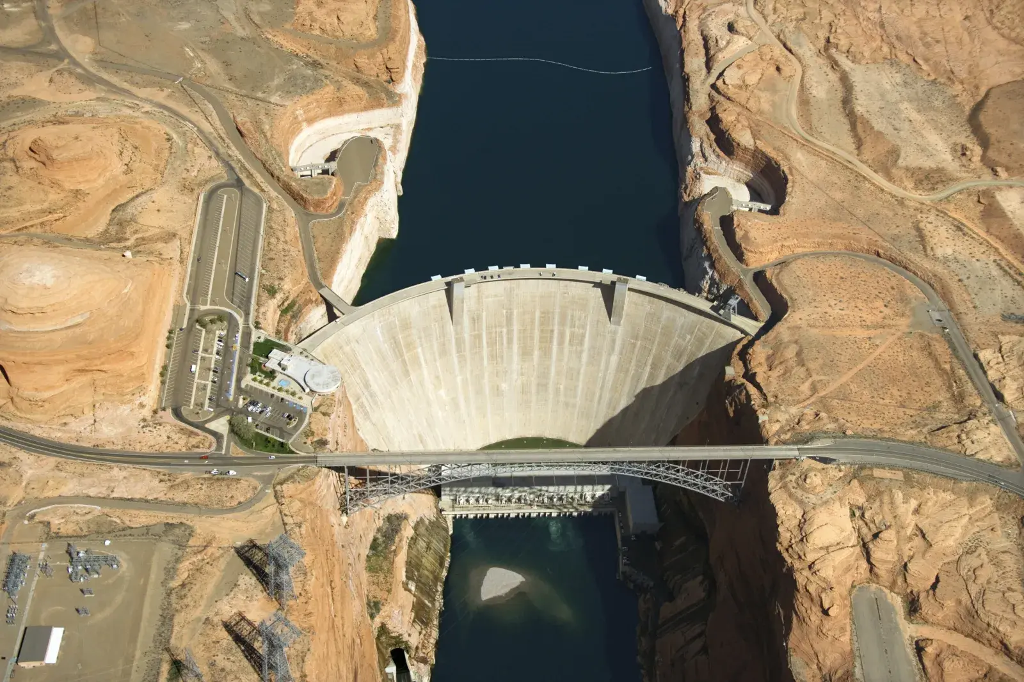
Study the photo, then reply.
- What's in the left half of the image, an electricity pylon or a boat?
electricity pylon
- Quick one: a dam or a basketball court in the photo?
dam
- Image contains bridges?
Yes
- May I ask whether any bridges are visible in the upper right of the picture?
No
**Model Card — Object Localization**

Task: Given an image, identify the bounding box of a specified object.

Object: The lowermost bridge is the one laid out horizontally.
[313,445,802,517]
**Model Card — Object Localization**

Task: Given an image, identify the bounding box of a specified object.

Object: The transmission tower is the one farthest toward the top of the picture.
[259,531,303,616]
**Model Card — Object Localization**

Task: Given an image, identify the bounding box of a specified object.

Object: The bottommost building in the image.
[17,626,65,669]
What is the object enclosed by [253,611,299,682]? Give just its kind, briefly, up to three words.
pylon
